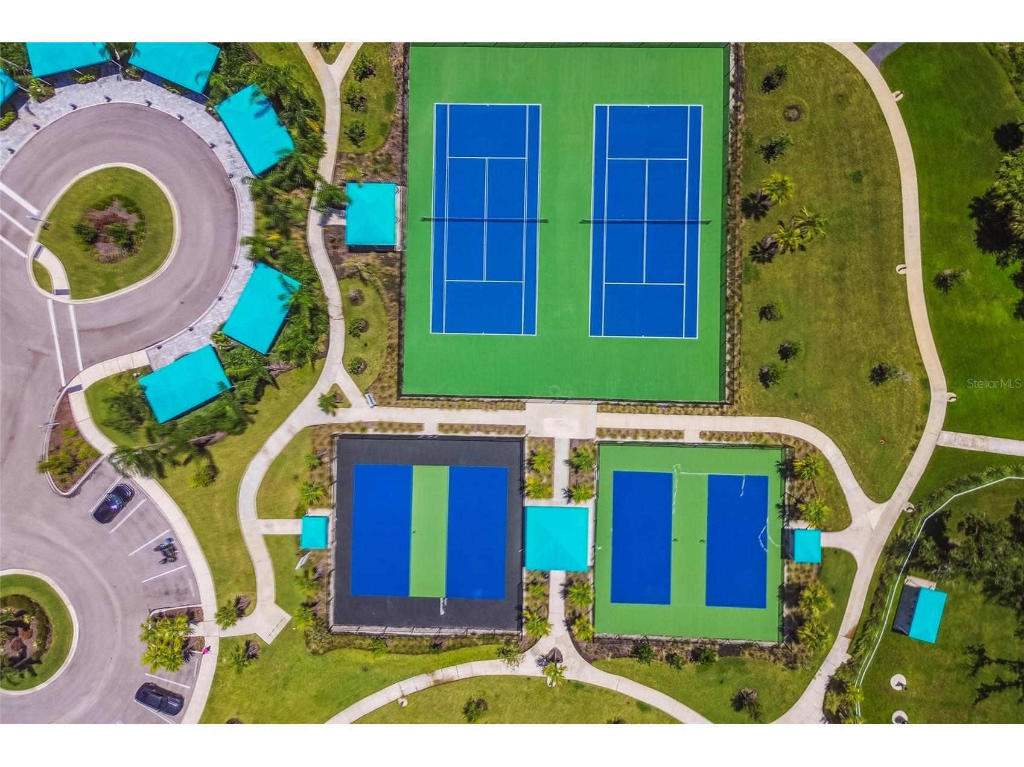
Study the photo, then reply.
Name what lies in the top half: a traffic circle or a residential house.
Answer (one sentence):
The one visible in the top half is a traffic circle.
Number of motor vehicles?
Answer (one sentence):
In total, 3 motor vehicles can be seen.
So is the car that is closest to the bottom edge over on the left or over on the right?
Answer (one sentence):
The car that is closest to the bottom edge sits on the left side.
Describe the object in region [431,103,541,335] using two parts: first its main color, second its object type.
blue tennis court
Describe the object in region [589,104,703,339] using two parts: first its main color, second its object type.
blue tennis court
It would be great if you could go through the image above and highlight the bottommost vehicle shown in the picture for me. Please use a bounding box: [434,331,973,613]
[132,682,186,715]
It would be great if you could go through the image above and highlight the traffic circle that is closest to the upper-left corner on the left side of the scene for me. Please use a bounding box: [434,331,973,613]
[26,162,182,304]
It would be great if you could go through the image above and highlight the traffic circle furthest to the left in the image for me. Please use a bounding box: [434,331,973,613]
[0,569,78,696]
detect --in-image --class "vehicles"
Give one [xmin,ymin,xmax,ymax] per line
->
[154,539,179,564]
[132,682,186,715]
[91,482,137,526]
